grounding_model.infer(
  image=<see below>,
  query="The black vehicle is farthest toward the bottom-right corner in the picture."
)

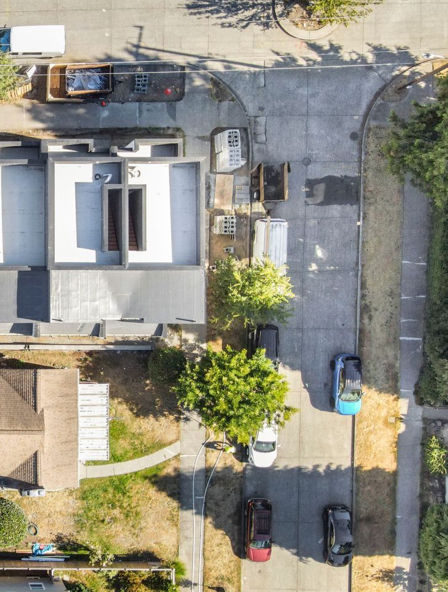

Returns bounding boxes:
[321,504,355,566]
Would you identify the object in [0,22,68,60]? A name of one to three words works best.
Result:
van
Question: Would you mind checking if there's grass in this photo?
Yes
